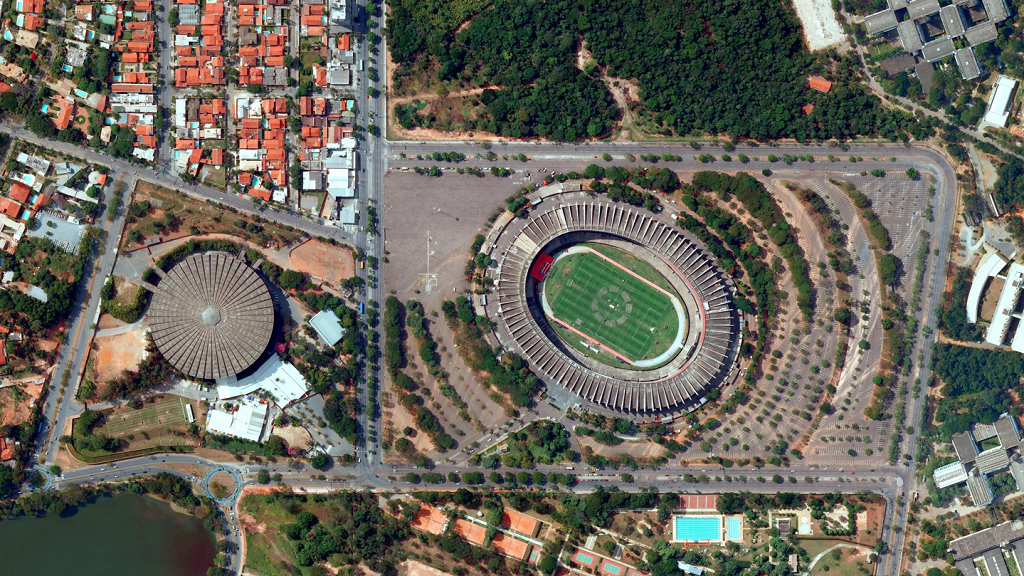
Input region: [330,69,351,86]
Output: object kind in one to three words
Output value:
house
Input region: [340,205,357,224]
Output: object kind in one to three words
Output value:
building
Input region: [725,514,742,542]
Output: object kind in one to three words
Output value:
swimming pool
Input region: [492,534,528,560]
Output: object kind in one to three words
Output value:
tennis court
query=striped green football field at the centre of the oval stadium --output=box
[552,251,671,361]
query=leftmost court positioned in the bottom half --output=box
[411,502,447,534]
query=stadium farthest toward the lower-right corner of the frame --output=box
[494,200,733,413]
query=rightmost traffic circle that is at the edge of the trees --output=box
[202,464,243,505]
